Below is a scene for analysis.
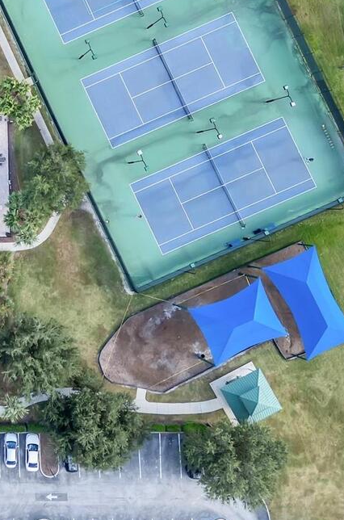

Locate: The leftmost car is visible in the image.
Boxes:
[4,433,19,467]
